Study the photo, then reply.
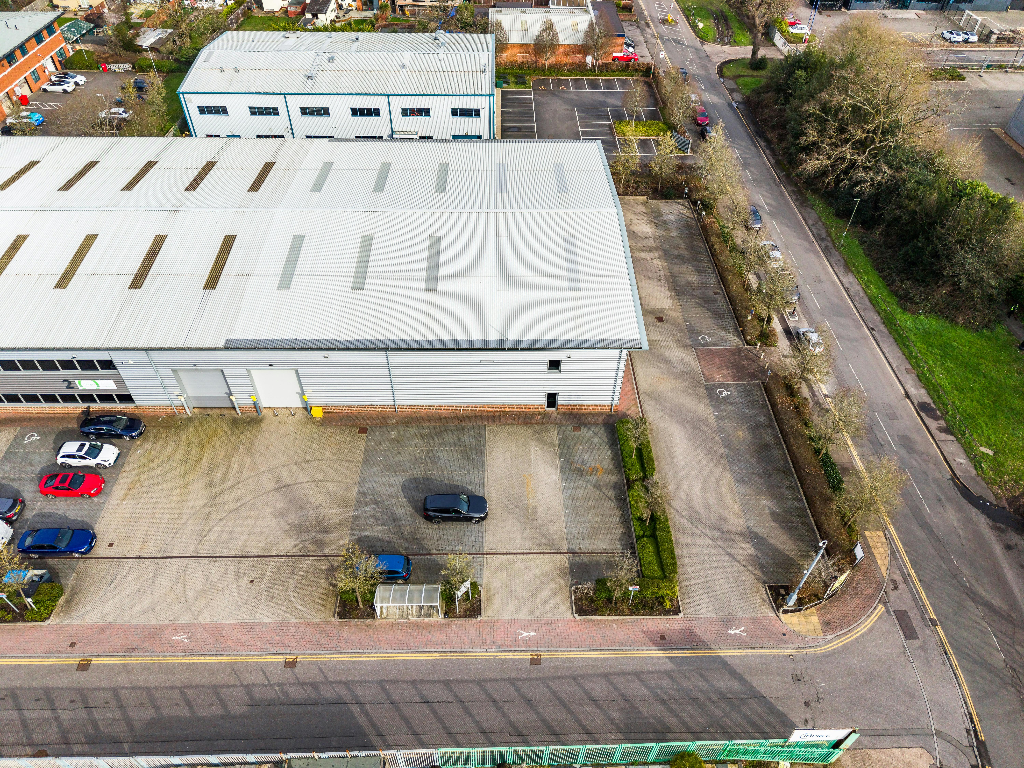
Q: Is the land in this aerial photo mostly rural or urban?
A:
urban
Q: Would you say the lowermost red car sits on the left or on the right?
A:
left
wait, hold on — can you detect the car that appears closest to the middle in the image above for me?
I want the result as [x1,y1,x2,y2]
[422,490,489,523]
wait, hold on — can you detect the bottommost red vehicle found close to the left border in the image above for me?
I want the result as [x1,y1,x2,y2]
[38,469,107,497]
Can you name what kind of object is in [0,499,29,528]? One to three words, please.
car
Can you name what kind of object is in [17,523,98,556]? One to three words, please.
car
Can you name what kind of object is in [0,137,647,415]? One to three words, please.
warehouse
